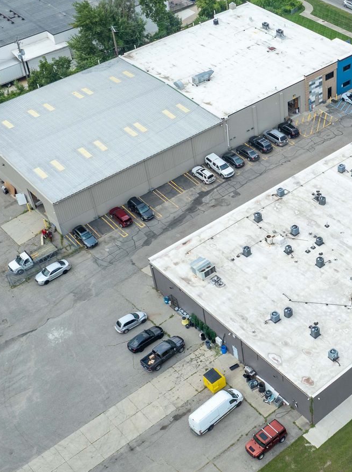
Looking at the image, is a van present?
Yes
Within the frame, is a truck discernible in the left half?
Yes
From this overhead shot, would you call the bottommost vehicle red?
Yes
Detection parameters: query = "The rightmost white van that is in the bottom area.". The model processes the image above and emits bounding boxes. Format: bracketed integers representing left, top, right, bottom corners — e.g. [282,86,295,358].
[187,387,246,435]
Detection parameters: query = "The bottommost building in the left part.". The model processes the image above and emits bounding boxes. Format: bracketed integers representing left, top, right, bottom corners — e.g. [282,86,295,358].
[0,56,231,235]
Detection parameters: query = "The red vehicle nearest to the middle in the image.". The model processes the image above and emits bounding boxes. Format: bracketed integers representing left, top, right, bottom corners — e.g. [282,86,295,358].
[108,207,136,228]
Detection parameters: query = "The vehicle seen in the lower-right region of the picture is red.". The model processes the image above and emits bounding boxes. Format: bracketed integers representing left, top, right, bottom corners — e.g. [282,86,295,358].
[245,416,290,459]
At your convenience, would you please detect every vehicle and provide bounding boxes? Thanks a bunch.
[8,237,65,276]
[125,193,155,219]
[70,220,100,247]
[343,0,352,8]
[137,336,187,373]
[114,313,149,333]
[248,136,276,153]
[34,258,73,285]
[108,207,136,228]
[223,153,247,169]
[125,327,166,355]
[245,416,290,459]
[262,128,291,147]
[187,387,246,435]
[190,165,218,184]
[203,150,236,176]
[341,93,352,104]
[235,145,262,162]
[276,122,303,139]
